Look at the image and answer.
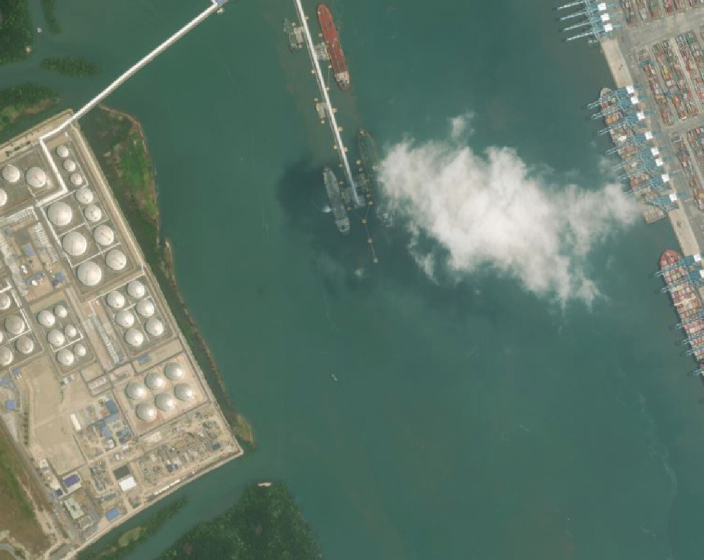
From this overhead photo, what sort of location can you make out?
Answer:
port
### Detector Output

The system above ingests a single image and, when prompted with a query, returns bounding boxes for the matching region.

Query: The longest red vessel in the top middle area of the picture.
[316,4,353,90]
